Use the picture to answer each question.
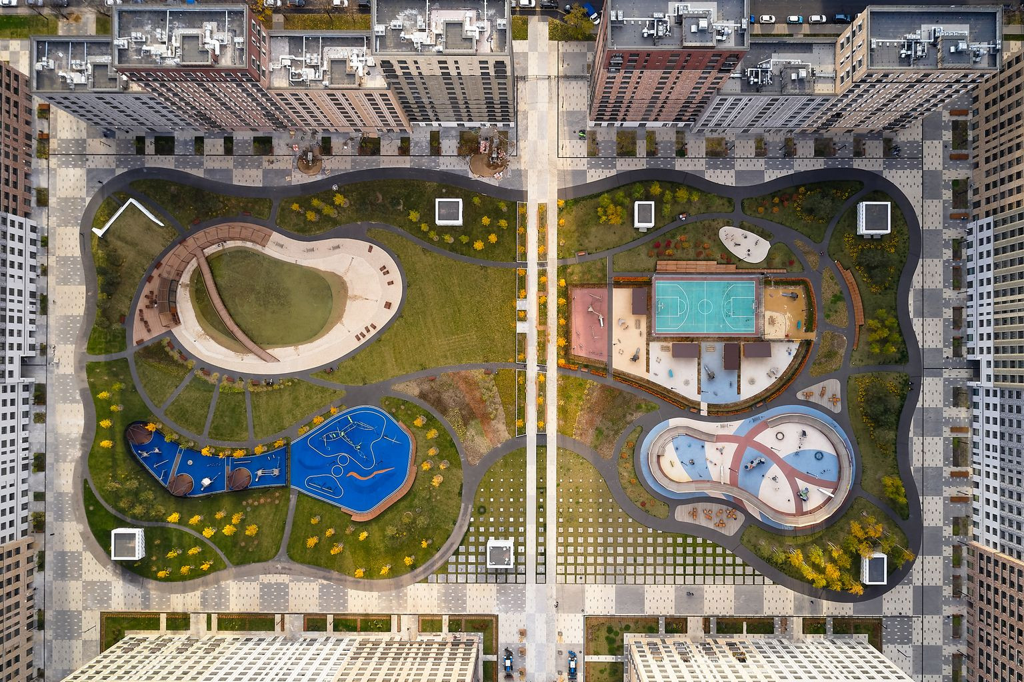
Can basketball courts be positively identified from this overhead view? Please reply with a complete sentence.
Yes, looking at the shot, I can spot a basketball court.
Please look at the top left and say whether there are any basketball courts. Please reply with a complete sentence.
No, I can find no basketball court at the top left.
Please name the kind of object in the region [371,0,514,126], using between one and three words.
building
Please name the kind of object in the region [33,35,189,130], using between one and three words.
building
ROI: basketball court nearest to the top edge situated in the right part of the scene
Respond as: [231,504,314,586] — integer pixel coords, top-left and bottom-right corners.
[652,275,765,336]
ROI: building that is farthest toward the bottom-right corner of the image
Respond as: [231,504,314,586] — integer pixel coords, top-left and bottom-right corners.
[967,543,1024,682]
